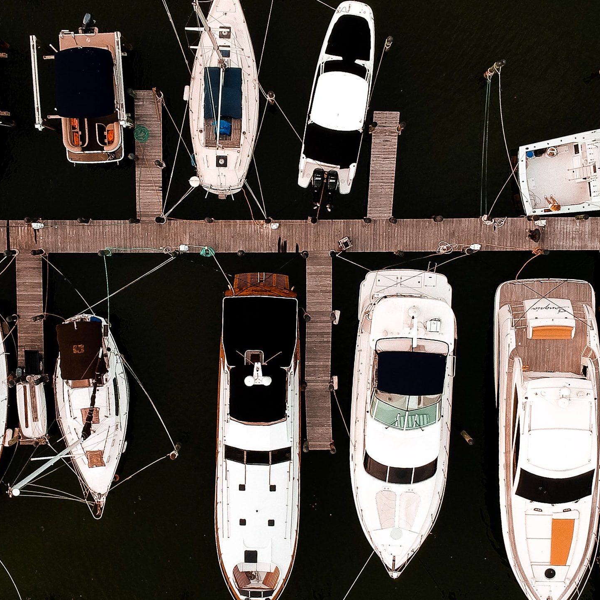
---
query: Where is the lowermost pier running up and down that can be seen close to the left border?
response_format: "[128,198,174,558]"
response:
[16,253,48,444]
